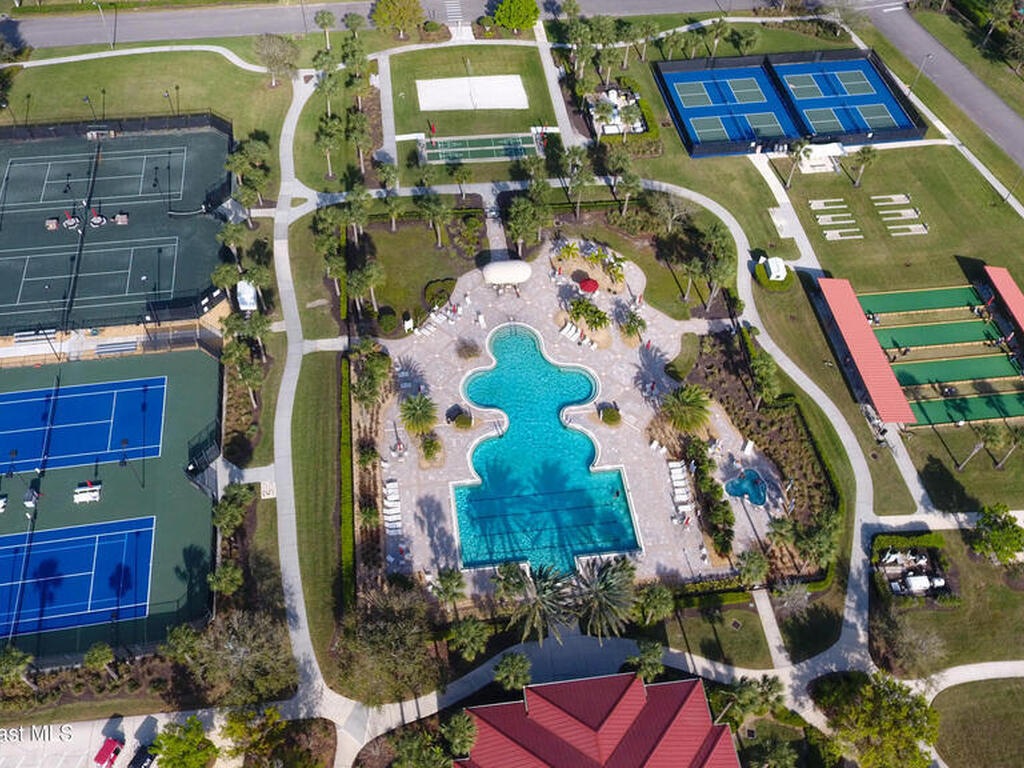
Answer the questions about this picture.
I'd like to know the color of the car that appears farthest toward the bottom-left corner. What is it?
red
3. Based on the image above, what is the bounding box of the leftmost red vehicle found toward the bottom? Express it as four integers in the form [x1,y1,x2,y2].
[91,740,127,768]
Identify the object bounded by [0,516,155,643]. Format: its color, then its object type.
blue tennis court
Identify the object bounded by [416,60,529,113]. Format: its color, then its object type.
white sports court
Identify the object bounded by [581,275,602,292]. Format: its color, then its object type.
red umbrella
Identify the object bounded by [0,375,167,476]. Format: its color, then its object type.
blue tennis court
